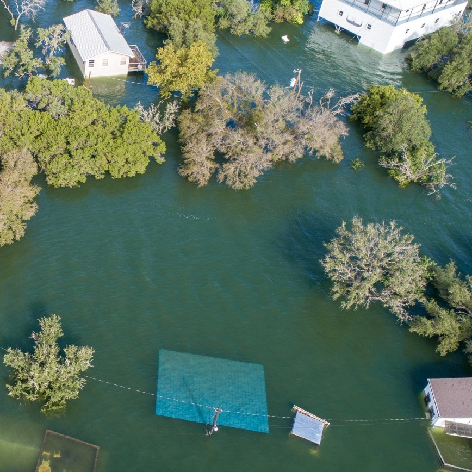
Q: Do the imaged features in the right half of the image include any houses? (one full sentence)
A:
Yes, a house is visible in the right half of the image.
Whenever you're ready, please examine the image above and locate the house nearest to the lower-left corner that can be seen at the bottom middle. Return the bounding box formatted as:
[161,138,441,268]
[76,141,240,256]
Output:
[156,352,268,445]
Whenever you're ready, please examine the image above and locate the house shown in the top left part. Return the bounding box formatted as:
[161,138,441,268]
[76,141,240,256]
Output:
[62,9,149,94]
